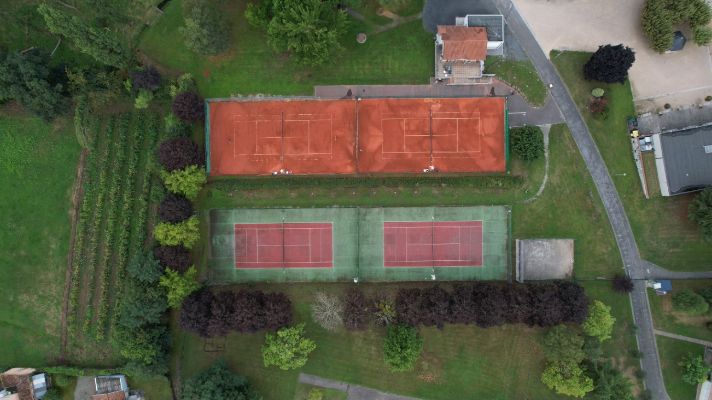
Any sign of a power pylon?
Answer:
No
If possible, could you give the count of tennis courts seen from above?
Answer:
four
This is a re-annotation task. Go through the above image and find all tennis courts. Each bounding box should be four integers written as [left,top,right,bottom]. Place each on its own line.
[209,99,357,177]
[209,207,358,282]
[357,97,506,175]
[359,205,509,280]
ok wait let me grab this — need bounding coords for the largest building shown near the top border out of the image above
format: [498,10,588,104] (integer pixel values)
[435,15,503,83]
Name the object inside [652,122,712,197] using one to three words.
building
